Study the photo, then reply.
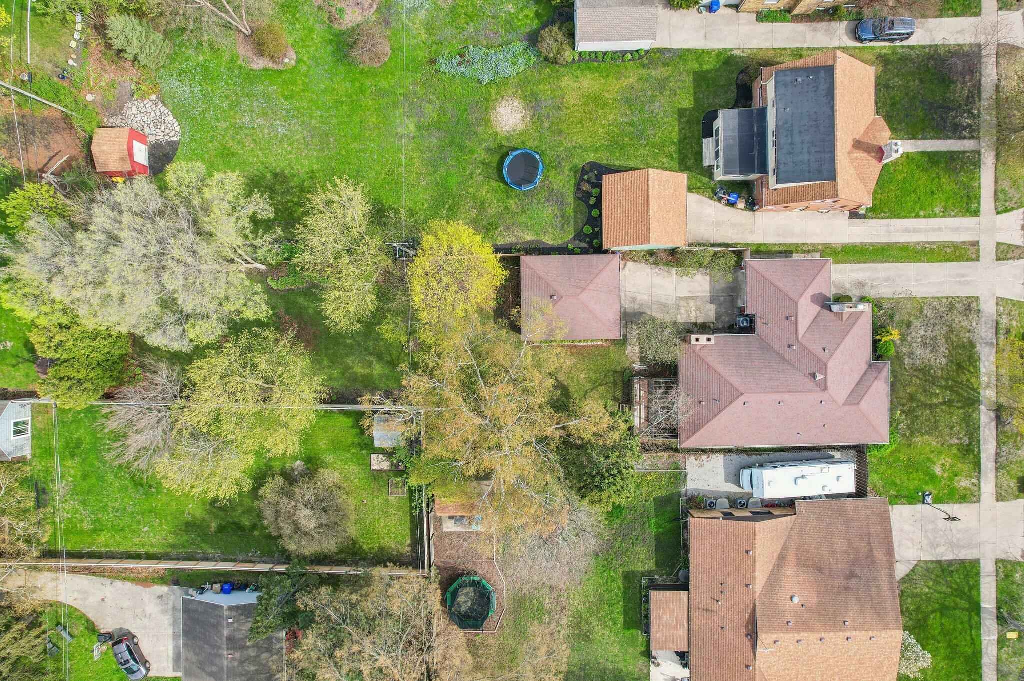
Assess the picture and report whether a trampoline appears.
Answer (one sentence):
Yes, there's a trampoline down there.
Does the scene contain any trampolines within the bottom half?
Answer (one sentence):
Yes, you'll find a trampoline within the bottom half.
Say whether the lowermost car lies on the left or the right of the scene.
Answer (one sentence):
The lowermost car is on the left side of the image.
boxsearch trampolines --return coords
[502,145,545,193]
[444,573,496,629]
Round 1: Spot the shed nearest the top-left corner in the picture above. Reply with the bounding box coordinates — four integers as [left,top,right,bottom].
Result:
[91,128,151,176]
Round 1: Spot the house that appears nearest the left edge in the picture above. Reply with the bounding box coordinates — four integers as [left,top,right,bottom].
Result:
[0,401,33,463]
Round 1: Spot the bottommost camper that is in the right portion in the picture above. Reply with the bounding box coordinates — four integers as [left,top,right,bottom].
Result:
[731,457,852,498]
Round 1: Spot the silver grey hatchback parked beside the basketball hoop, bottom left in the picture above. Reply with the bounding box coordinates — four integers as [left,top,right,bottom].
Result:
[111,634,152,681]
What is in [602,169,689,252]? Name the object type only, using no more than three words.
building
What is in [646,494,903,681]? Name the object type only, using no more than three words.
house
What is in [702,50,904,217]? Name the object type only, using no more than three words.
house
